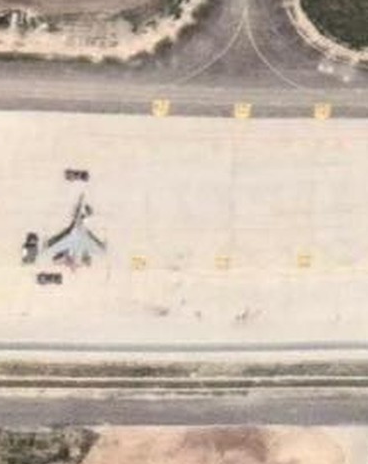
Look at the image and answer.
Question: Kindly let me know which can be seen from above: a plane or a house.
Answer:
plane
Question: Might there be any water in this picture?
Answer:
No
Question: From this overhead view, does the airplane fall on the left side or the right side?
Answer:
left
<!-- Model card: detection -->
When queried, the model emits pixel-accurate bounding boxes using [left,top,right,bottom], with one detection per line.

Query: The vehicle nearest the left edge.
[22,235,38,263]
